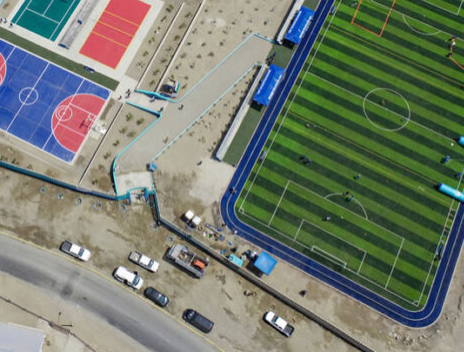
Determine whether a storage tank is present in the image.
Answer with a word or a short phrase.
No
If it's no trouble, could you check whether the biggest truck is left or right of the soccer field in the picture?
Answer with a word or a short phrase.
left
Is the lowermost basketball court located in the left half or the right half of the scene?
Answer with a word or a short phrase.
left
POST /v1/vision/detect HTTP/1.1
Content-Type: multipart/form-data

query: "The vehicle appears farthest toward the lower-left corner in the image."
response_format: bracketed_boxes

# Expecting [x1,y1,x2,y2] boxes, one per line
[59,241,90,262]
